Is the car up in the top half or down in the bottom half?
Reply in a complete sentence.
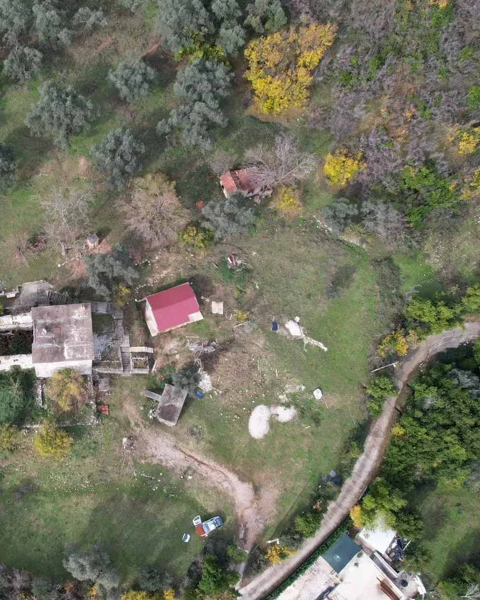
The bottom half of the photo is where the car is.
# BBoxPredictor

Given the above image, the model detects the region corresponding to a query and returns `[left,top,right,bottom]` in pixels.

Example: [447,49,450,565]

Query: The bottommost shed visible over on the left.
[156,384,187,427]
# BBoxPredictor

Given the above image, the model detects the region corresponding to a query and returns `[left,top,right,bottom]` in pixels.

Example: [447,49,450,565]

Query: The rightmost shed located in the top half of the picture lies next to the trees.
[219,167,271,204]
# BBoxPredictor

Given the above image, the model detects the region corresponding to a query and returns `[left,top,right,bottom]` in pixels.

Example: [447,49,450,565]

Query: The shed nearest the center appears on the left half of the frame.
[137,283,204,339]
